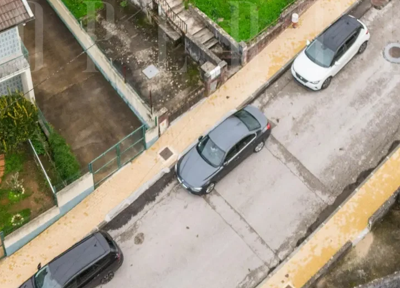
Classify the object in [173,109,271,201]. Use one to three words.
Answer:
car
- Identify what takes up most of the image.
paved ground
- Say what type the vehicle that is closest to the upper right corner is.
automobile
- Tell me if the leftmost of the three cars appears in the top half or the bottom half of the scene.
bottom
